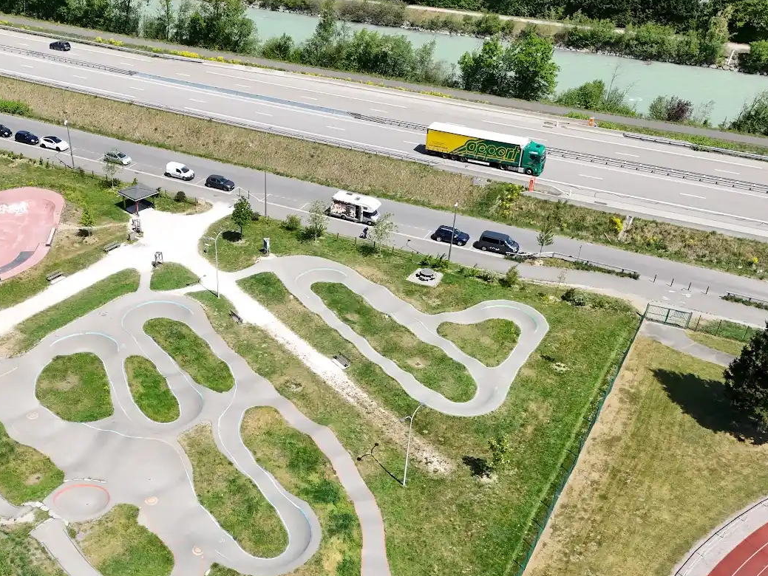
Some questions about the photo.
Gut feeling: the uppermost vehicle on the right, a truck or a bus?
truck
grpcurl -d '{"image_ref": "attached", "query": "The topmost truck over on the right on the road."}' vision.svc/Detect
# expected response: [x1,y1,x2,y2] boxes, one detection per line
[427,120,549,175]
